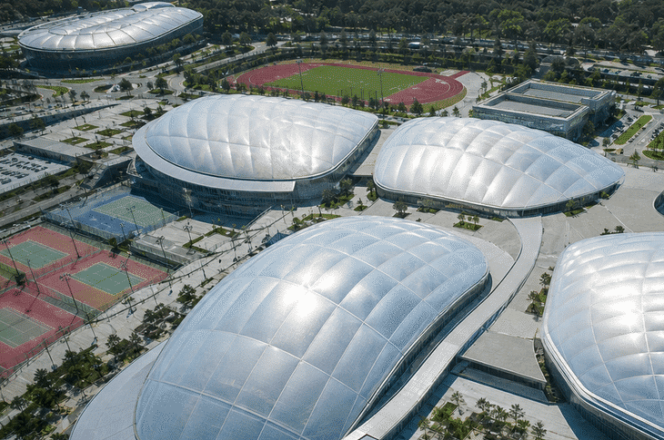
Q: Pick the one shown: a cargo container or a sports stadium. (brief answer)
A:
sports stadium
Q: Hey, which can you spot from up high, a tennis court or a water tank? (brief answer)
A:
tennis court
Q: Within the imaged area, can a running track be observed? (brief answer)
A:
Yes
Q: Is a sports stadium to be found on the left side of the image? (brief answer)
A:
Yes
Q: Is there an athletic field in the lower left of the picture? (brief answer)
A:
No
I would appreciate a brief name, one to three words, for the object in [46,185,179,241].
tennis court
